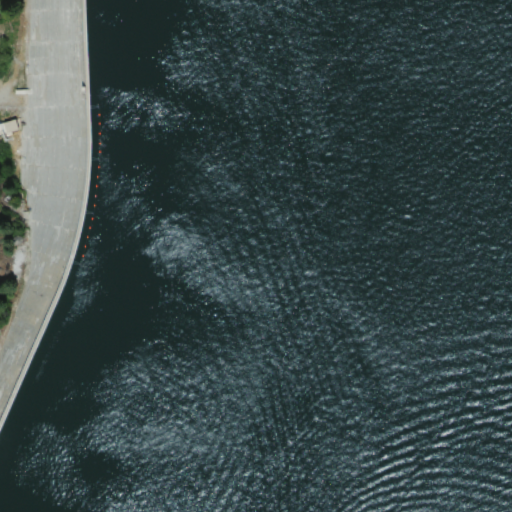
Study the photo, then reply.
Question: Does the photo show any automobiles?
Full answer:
No, there isn't any automobile down there.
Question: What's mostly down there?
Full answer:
Most of the picture is covered by water.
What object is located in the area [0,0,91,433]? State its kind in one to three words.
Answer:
dam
